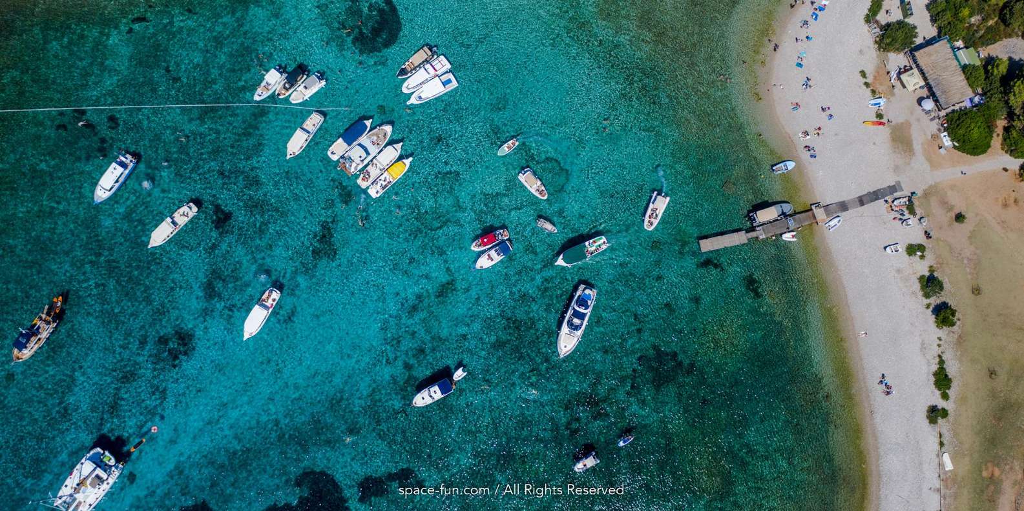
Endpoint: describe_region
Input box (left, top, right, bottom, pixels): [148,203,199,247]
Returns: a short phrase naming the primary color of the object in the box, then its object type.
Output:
white boat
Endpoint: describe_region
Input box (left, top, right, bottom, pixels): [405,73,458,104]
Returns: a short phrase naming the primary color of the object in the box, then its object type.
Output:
white boat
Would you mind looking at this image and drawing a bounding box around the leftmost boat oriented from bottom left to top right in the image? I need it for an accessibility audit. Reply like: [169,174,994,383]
[7,305,58,366]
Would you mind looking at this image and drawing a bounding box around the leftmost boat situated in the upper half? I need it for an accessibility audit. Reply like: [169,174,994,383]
[92,151,138,204]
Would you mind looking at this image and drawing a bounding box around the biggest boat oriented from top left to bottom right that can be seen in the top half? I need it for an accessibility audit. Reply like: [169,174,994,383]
[521,166,547,198]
